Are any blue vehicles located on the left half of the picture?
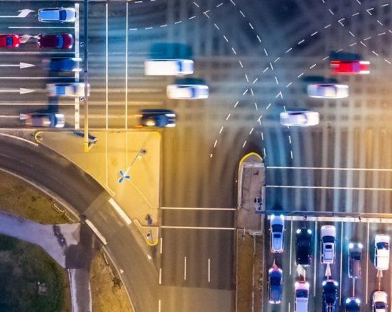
Yes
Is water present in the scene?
No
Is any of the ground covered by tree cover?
No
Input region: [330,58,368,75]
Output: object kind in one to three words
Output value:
car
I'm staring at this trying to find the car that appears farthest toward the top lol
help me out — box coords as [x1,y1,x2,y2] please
[38,5,76,23]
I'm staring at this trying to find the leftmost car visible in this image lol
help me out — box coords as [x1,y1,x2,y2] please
[0,31,22,49]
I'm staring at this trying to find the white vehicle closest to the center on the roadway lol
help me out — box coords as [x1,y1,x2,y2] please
[168,83,208,100]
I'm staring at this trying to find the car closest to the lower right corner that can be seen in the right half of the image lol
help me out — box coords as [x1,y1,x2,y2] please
[371,289,389,312]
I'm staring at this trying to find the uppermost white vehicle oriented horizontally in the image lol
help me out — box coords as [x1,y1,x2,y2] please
[146,57,192,76]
